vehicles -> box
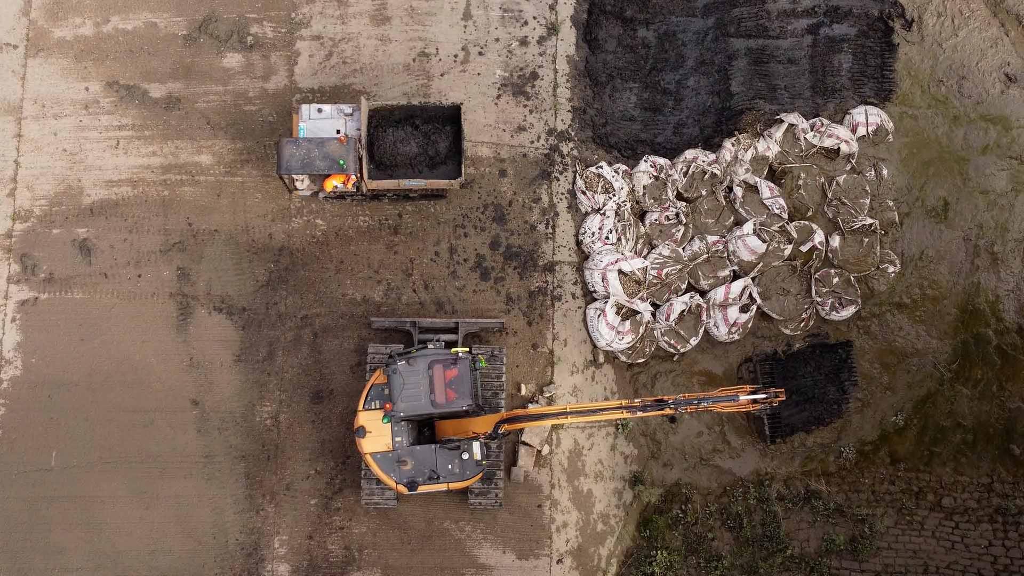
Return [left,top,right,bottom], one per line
[355,319,795,508]
[277,97,466,203]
